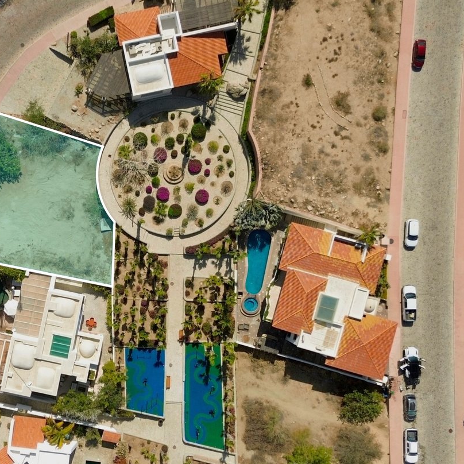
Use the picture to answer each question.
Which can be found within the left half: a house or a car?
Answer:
house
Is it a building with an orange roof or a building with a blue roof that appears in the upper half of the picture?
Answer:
building with an orange roof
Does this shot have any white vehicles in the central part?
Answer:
No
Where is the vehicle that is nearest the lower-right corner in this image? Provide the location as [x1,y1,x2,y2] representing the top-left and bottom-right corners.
[403,428,420,464]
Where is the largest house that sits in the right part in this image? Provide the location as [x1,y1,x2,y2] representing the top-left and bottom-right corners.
[268,222,398,382]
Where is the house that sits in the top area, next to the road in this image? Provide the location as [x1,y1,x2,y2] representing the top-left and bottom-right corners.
[114,5,237,102]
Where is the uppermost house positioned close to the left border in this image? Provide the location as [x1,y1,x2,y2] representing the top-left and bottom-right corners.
[0,272,103,397]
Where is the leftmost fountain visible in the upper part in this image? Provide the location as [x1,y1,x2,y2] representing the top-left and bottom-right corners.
[165,161,186,183]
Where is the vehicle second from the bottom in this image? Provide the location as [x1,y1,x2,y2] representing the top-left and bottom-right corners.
[403,393,419,422]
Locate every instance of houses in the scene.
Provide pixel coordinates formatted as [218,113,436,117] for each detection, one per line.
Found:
[0,272,103,397]
[0,409,78,464]
[268,222,398,382]
[114,5,237,102]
